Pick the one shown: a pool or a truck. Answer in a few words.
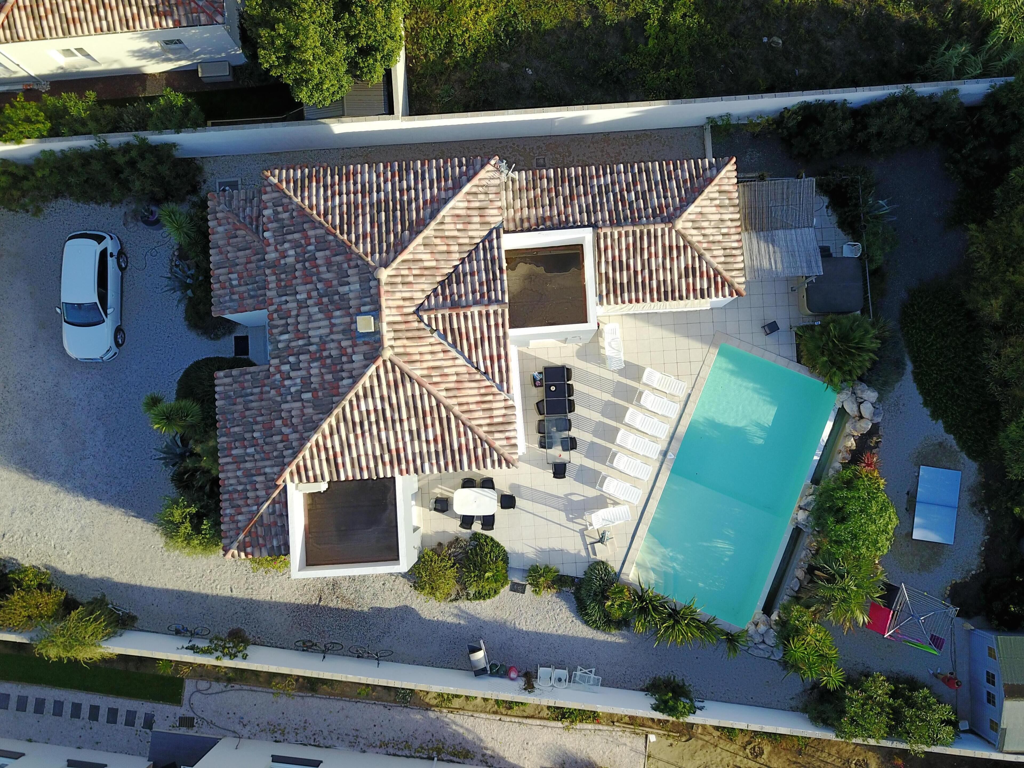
pool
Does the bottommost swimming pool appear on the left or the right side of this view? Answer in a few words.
right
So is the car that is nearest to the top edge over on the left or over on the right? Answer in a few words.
left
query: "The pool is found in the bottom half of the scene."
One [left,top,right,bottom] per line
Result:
[616,330,859,644]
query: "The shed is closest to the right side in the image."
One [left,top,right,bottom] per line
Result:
[971,627,1024,756]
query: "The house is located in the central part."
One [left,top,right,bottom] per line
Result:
[206,151,751,578]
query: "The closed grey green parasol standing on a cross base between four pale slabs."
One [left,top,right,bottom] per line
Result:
[586,527,617,559]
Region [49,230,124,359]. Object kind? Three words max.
car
